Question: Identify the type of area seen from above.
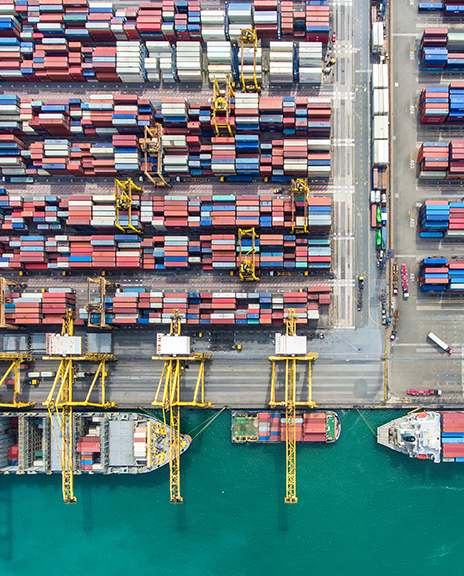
port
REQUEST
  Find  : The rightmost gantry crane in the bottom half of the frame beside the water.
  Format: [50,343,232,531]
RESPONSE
[266,308,319,503]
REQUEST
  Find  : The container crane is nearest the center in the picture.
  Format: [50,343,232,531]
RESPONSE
[235,226,264,284]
